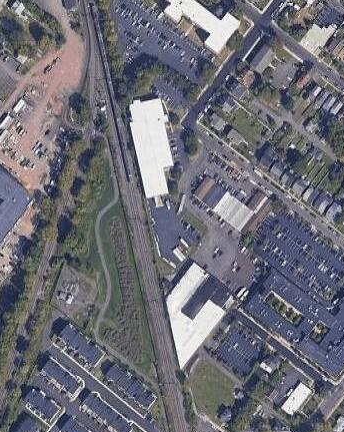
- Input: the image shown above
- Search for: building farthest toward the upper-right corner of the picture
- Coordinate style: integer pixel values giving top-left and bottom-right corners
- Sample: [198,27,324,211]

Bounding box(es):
[317,2,344,26]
